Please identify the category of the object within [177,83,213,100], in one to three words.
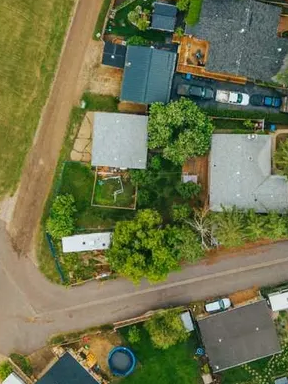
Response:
vehicle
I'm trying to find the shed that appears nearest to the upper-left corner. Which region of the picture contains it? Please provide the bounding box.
[99,43,126,68]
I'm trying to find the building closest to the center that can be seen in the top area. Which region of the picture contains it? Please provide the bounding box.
[90,112,148,169]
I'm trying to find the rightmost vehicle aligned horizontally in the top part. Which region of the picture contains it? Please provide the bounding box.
[250,93,282,109]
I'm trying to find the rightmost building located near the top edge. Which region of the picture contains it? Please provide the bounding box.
[185,0,288,83]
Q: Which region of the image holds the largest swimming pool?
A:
bottom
